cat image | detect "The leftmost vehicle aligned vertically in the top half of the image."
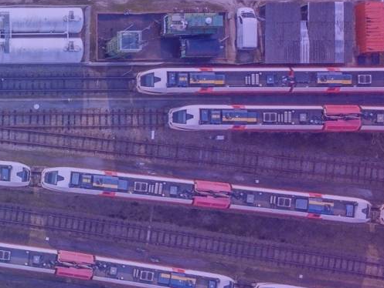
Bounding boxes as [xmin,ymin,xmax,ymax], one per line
[233,6,256,54]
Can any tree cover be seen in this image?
No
